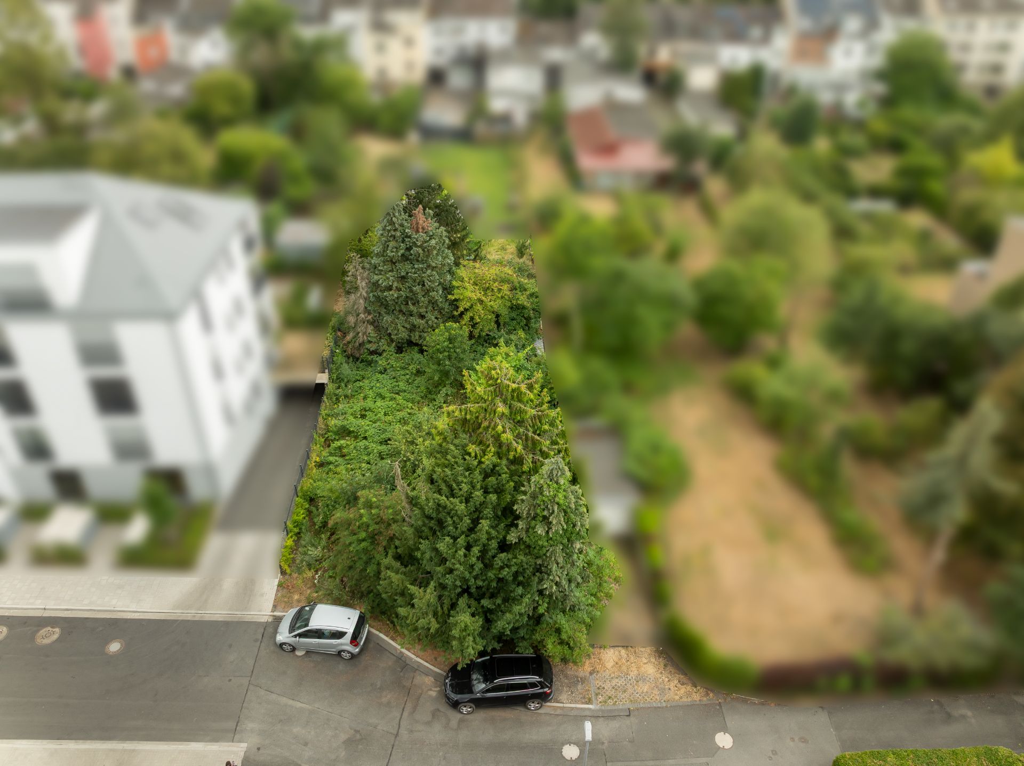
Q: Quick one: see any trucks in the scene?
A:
No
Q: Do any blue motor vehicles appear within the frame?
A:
No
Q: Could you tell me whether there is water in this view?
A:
No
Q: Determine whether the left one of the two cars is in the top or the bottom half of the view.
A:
bottom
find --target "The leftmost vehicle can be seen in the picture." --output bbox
[271,603,366,660]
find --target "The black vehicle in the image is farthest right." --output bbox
[445,655,555,715]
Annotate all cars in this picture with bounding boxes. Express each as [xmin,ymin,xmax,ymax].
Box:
[271,603,366,660]
[445,655,555,715]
